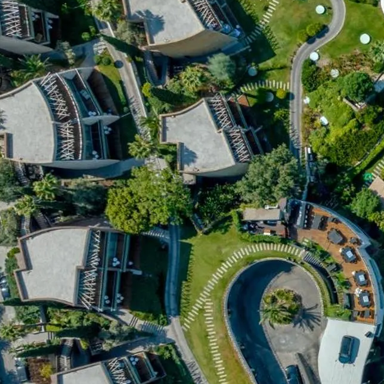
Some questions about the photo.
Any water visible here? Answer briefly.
No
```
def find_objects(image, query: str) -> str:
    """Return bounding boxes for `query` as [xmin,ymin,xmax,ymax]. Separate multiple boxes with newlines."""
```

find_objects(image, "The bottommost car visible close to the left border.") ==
[7,357,27,384]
